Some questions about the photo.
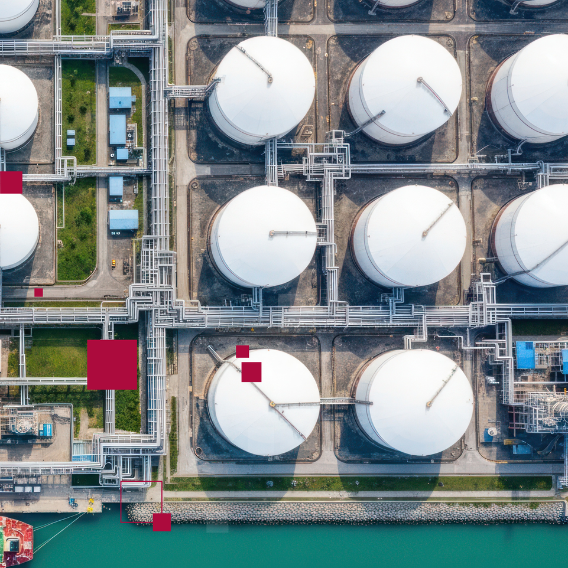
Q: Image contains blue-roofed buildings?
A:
Yes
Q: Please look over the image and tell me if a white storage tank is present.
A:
Yes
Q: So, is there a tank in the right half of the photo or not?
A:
Yes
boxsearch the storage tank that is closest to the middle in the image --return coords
[199,183,318,298]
